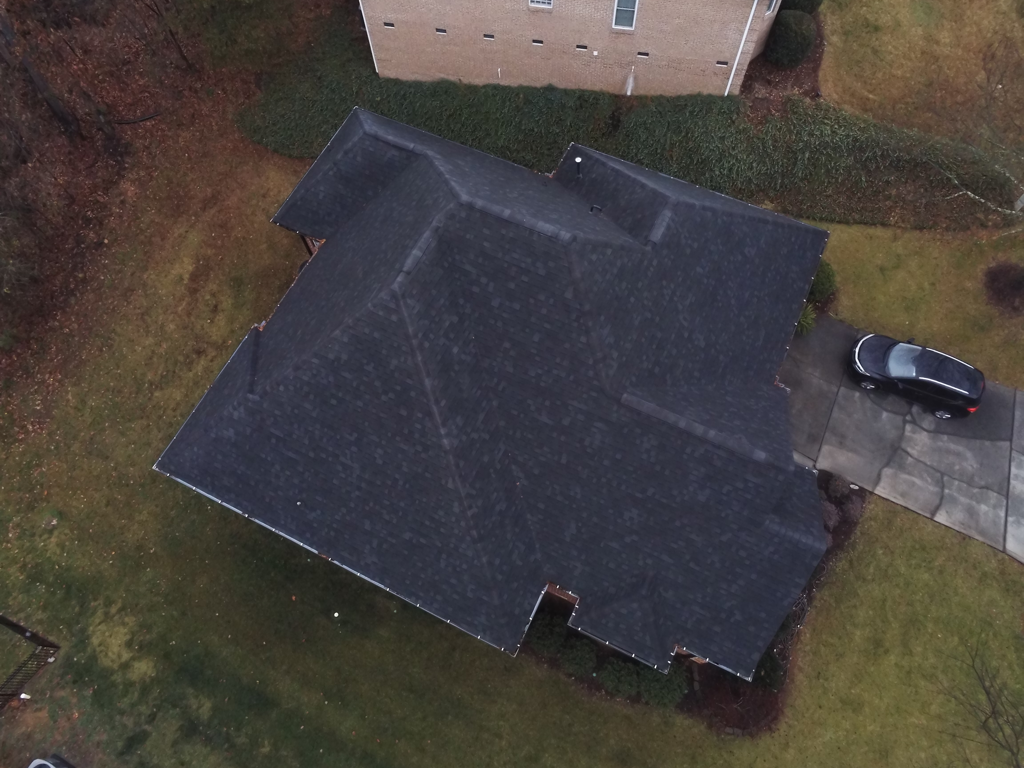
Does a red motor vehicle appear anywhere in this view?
No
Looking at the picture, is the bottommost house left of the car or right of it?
to the left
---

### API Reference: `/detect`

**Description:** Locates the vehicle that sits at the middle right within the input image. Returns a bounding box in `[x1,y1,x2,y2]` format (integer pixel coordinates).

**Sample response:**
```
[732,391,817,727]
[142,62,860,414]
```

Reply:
[845,334,990,421]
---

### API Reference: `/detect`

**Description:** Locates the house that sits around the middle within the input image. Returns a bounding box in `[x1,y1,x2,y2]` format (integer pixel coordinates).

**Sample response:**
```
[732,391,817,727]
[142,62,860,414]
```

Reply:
[152,107,831,679]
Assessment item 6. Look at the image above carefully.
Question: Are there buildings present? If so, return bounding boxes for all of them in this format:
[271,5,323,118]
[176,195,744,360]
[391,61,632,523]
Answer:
[152,107,831,679]
[357,0,782,97]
